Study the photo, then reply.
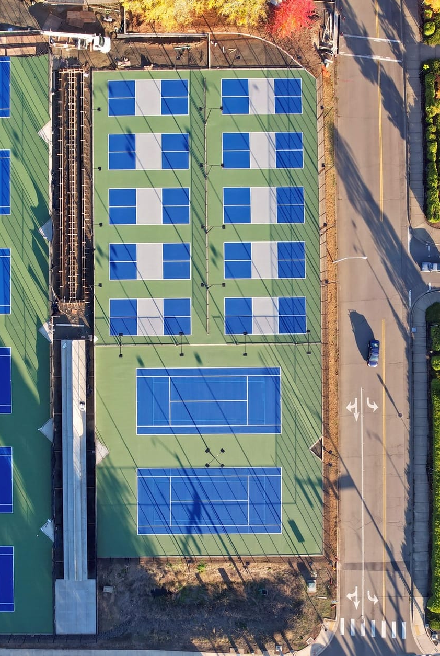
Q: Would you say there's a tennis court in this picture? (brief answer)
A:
Yes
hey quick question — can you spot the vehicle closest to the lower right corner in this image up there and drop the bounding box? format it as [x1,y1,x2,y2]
[364,338,380,368]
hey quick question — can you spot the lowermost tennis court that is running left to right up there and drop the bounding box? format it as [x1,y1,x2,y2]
[137,467,282,534]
